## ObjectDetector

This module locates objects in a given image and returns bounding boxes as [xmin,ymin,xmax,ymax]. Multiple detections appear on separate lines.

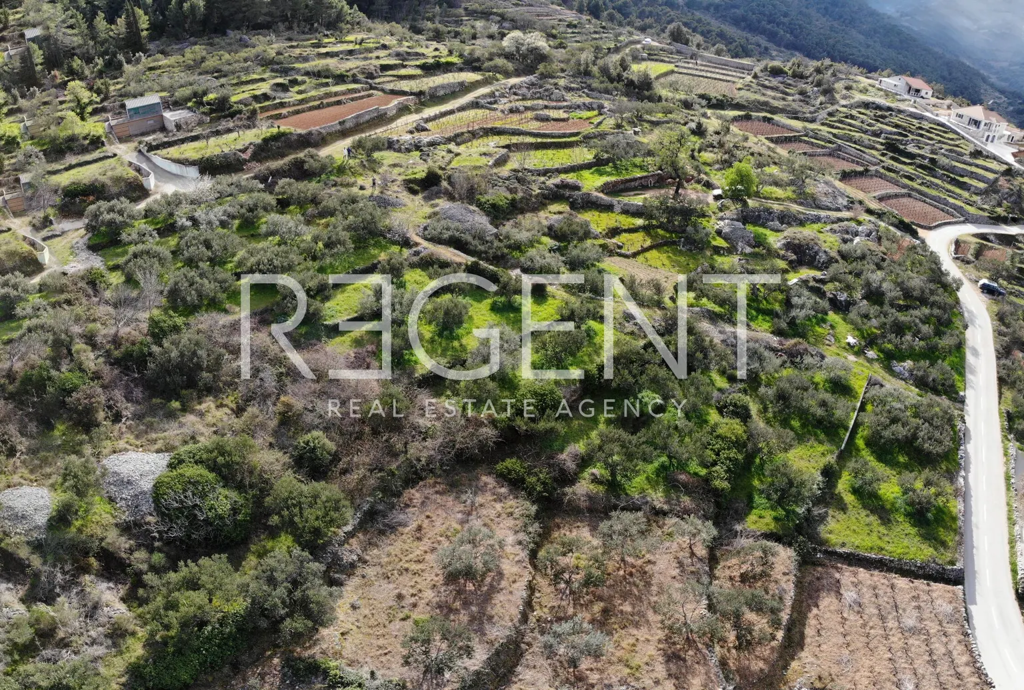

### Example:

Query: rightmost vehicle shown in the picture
[977,277,1009,295]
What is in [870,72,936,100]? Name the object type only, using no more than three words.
house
